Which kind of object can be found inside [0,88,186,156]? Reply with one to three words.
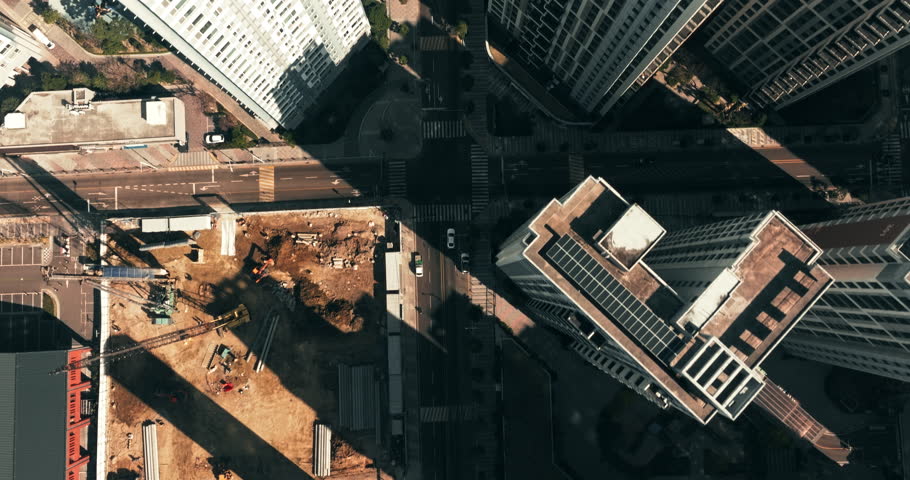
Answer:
building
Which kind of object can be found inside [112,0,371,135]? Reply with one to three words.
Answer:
building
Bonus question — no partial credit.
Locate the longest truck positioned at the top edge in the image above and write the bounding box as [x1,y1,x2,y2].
[25,21,53,52]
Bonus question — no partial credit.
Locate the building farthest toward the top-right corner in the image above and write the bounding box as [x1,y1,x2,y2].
[706,0,910,114]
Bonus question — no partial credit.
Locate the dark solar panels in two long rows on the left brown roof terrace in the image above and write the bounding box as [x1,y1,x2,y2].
[544,234,691,371]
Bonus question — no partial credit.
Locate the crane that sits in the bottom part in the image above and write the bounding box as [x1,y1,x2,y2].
[44,300,254,377]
